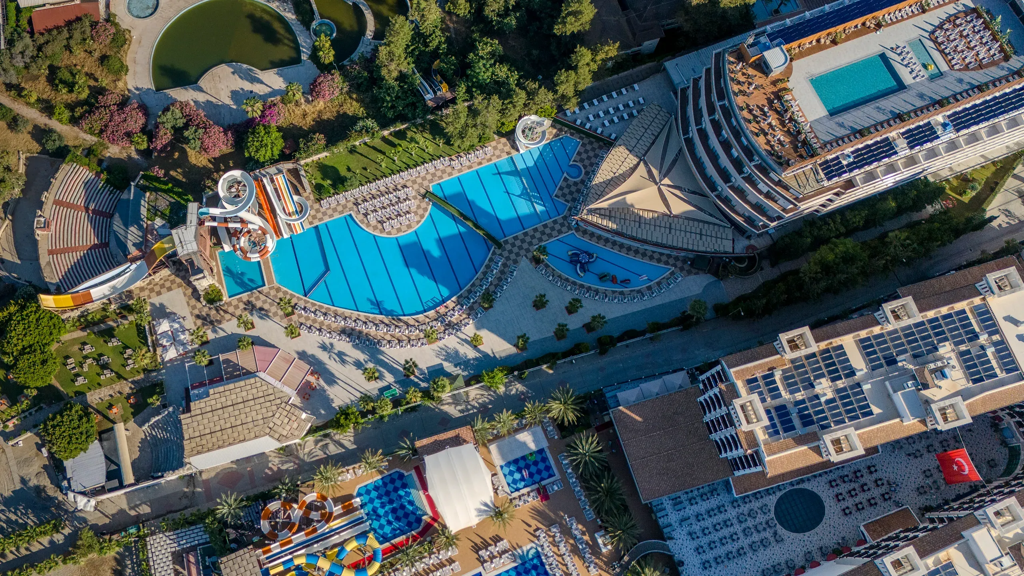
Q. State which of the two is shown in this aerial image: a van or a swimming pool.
swimming pool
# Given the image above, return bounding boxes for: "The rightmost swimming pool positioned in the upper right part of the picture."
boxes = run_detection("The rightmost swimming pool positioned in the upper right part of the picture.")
[907,38,943,80]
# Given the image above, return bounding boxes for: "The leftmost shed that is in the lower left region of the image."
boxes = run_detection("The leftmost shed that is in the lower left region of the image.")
[64,440,112,492]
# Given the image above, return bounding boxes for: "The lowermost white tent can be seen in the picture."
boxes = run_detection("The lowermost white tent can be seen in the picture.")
[424,442,496,532]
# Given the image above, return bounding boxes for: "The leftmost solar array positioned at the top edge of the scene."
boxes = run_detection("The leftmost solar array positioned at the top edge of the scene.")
[771,0,904,47]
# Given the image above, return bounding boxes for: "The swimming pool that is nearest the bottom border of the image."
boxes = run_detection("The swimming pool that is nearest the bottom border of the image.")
[473,551,555,576]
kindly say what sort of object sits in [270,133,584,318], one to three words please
swimming pool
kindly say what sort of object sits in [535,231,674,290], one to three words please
swimming pool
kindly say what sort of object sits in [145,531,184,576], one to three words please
building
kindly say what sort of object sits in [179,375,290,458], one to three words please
building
